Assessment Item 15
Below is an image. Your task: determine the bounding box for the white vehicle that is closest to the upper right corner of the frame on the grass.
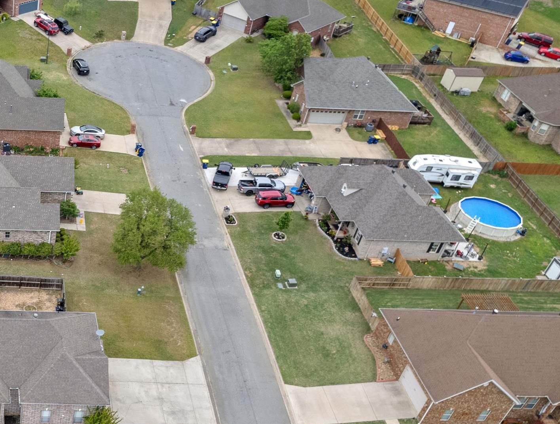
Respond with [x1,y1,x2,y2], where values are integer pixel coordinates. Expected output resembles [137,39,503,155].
[405,150,491,185]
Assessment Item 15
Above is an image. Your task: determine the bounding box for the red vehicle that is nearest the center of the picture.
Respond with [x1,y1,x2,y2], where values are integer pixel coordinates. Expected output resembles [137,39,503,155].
[254,190,300,210]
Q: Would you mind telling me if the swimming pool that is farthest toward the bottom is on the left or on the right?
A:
right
